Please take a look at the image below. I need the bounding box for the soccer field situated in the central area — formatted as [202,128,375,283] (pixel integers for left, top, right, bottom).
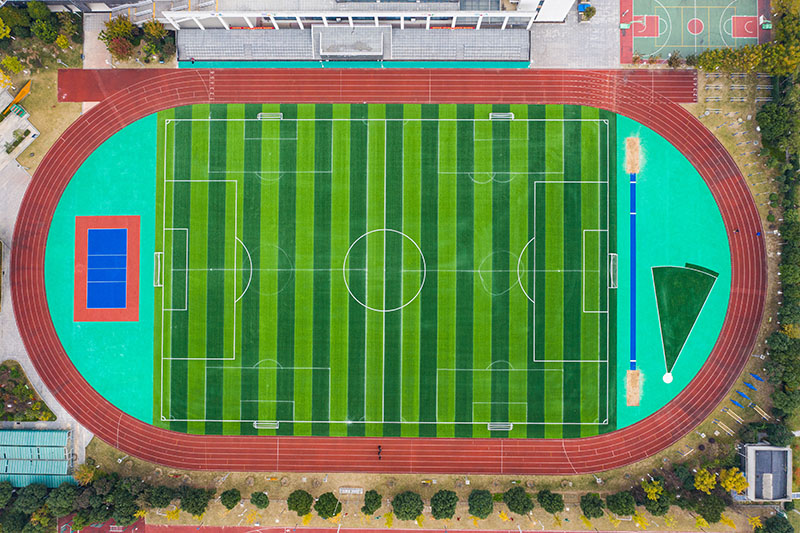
[152,105,617,439]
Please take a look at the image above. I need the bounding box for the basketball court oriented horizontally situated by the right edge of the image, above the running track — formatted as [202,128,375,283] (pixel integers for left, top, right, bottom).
[620,0,771,63]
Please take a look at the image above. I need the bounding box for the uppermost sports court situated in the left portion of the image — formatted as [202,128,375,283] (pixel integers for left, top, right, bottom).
[74,216,140,322]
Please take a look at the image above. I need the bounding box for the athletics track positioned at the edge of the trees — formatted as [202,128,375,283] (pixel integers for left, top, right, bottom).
[8,69,769,477]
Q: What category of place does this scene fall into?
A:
sports ground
